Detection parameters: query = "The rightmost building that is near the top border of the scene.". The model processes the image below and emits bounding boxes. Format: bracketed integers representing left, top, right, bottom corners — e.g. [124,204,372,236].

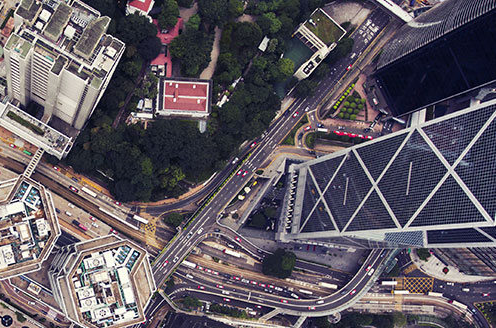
[376,0,496,116]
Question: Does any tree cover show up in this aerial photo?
Yes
